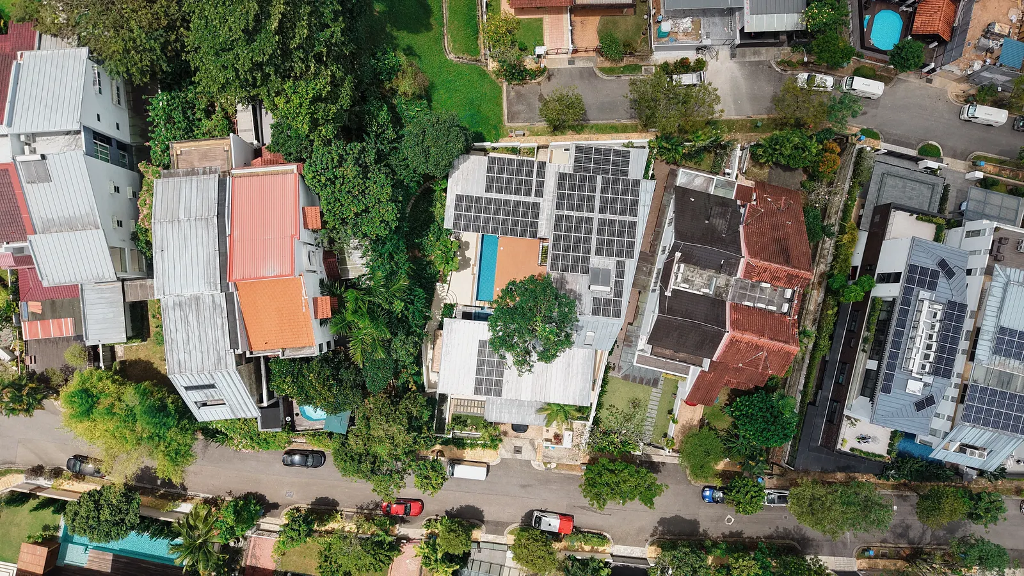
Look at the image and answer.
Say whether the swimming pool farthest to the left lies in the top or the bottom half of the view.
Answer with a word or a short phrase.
bottom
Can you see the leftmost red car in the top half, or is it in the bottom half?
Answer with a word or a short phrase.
bottom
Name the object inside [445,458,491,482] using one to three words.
vehicle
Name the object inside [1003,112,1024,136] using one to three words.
car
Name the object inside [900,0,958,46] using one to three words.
building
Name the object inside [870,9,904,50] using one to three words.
swimming pool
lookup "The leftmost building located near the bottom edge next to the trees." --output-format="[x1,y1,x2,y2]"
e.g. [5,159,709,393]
[16,534,72,576]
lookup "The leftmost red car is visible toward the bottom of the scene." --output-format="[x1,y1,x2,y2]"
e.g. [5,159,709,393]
[381,496,426,518]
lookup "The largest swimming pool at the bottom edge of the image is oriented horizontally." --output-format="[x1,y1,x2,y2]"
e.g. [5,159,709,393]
[56,513,188,567]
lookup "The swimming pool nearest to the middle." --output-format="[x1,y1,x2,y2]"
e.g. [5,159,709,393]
[470,234,497,306]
